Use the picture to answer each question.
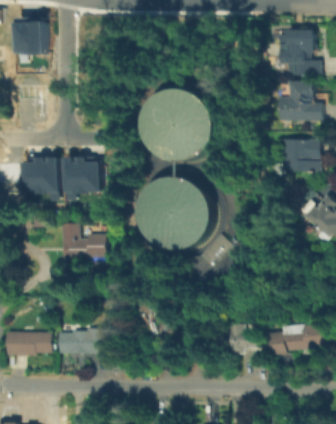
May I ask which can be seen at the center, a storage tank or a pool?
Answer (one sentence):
You can see a storage tank at the center.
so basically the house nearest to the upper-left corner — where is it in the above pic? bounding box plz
[12,18,50,52]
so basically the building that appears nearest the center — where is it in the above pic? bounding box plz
[202,234,234,267]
